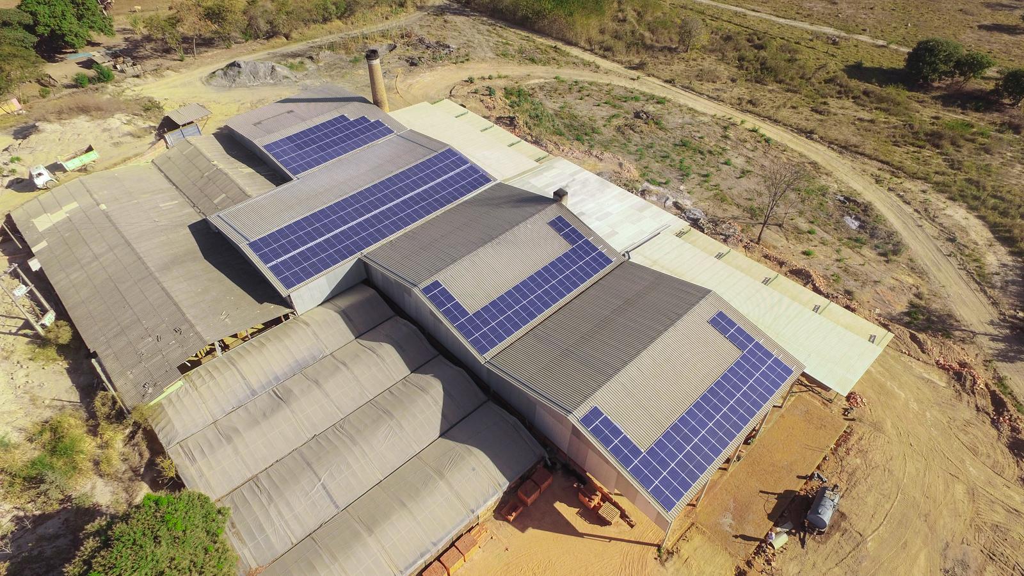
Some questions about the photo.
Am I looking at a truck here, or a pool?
truck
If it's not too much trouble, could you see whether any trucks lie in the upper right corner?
No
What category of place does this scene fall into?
industrial area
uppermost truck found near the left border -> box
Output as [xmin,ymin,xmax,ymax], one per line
[32,150,98,190]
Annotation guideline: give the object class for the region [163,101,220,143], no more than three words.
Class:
shed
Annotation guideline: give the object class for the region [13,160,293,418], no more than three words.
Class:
shed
